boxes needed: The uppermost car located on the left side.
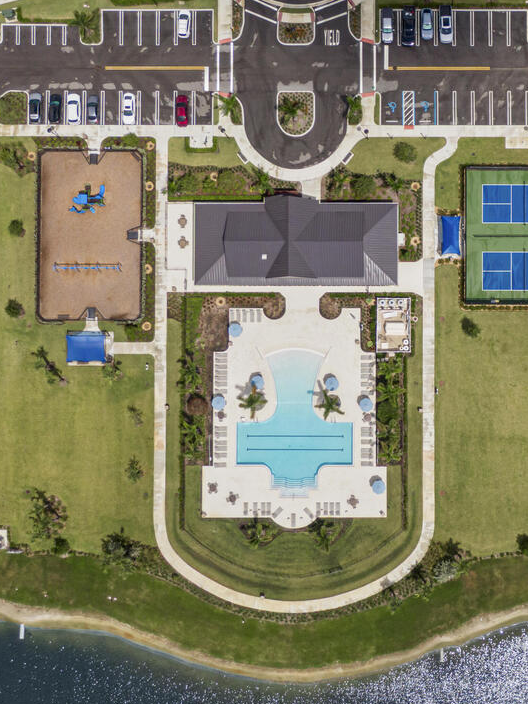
[175,9,192,40]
